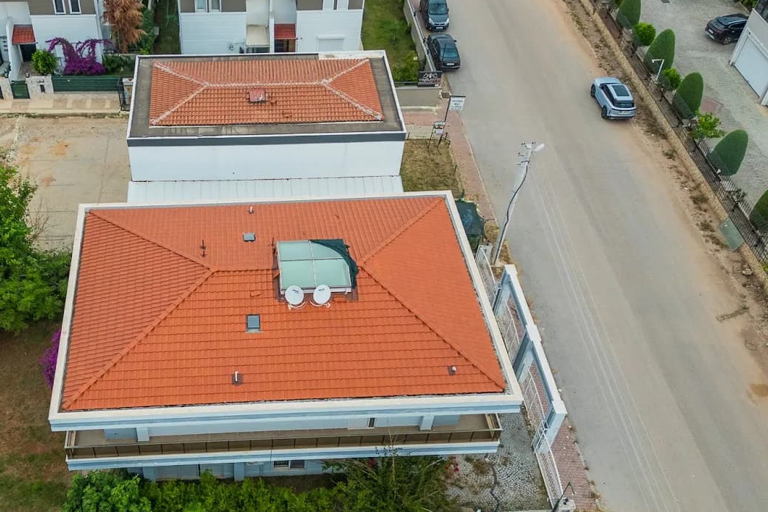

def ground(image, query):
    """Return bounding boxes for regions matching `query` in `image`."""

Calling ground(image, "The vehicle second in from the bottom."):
[437,32,468,66]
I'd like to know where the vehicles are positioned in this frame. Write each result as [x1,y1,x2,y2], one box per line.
[700,7,753,39]
[424,0,457,30]
[437,32,468,66]
[583,73,637,119]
